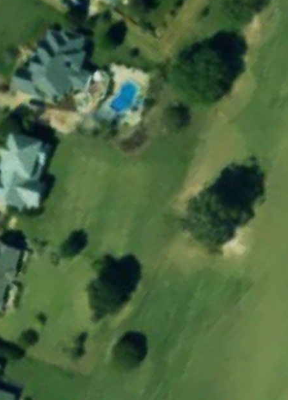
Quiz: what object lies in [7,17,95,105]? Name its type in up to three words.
house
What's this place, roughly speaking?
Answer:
golf course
